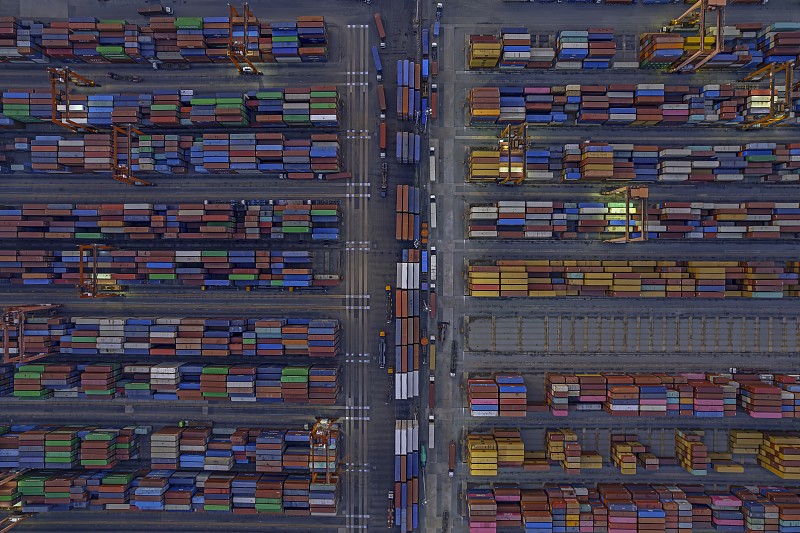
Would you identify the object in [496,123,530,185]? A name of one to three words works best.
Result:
container crane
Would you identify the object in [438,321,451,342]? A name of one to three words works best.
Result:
vehicle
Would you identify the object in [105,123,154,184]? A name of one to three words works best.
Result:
container crane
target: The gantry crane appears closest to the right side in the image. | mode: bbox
[738,65,796,132]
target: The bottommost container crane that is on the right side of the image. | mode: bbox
[605,187,650,246]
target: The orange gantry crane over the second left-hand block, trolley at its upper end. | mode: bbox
[43,63,98,131]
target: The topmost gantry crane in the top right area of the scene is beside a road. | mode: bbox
[673,0,726,73]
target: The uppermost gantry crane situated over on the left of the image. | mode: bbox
[225,2,262,73]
